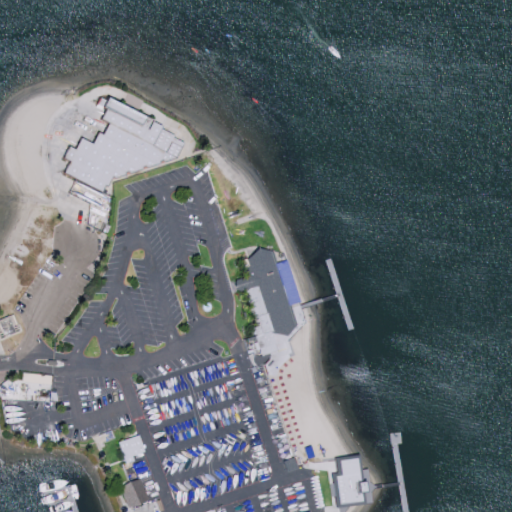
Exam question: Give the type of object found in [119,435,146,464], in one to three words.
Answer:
house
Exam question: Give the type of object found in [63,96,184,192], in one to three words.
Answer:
building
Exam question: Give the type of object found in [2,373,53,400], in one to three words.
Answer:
building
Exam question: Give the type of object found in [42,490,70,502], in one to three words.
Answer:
boat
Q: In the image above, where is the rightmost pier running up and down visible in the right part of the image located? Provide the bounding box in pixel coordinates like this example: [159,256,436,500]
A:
[390,432,410,512]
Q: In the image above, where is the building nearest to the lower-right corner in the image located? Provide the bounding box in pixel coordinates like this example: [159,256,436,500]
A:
[332,453,370,508]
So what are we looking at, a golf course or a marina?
marina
